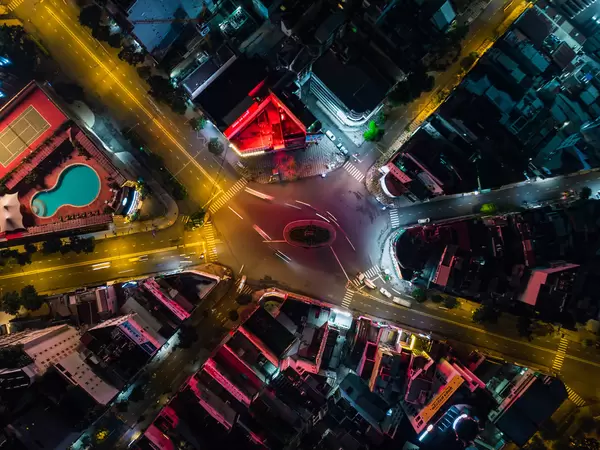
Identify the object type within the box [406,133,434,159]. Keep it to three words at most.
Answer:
house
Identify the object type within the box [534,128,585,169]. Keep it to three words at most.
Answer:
building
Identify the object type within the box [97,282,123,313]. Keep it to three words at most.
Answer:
building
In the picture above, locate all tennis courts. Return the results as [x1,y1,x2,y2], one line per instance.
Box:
[0,80,72,187]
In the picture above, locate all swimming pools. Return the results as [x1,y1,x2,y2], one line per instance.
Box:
[29,162,101,220]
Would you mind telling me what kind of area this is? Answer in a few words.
residential area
